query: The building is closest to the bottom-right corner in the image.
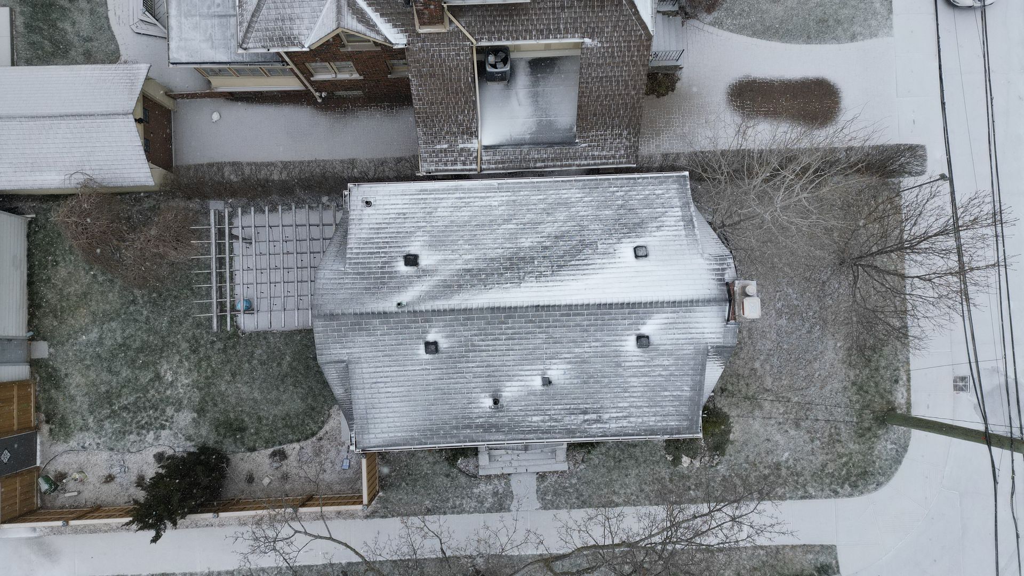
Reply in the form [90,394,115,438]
[312,168,766,456]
